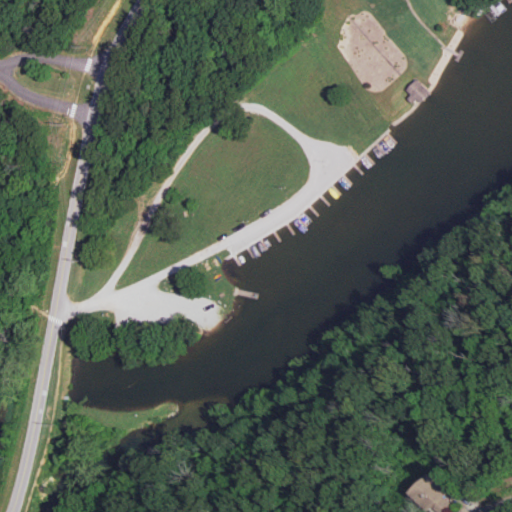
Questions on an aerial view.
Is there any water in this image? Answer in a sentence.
Yes, some water is visible.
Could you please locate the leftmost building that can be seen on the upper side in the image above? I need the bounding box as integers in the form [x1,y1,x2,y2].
[405,77,431,104]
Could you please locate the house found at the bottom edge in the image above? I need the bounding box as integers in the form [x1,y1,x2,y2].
[408,477,448,512]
